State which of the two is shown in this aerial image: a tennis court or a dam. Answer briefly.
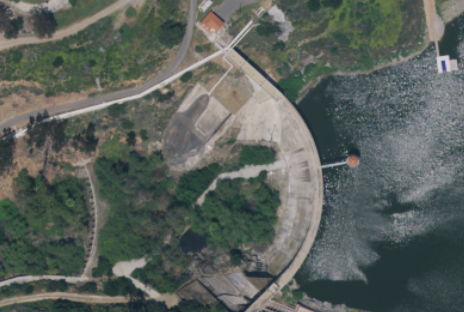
dam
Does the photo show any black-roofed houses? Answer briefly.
No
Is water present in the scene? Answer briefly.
Yes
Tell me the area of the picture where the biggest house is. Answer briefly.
top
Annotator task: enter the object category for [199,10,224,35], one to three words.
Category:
house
